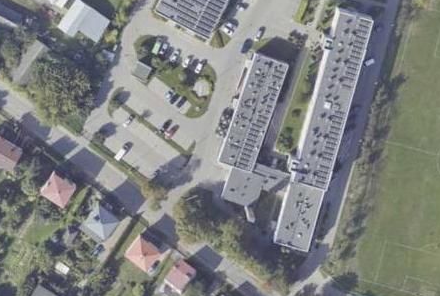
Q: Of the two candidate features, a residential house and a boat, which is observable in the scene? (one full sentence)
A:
Of the two, only a residential house appears.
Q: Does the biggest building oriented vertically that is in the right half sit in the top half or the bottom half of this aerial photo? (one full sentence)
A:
The biggest building oriented vertically that is in the right half sits in the top half of the picture.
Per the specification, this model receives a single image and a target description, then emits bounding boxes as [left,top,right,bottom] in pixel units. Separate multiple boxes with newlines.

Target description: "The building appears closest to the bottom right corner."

[272,181,325,252]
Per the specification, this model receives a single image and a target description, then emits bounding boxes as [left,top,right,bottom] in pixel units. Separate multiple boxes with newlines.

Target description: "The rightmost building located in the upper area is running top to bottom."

[289,8,373,191]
